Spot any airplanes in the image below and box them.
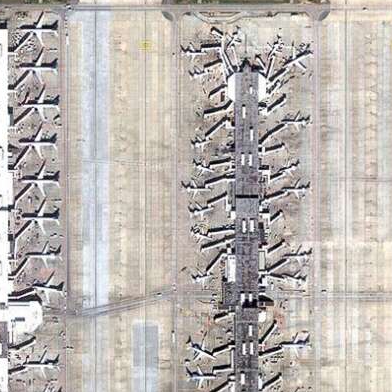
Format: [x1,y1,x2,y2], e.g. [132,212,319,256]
[19,53,57,83]
[191,227,212,241]
[279,159,301,175]
[282,112,311,134]
[19,165,59,197]
[19,15,57,46]
[25,353,60,379]
[19,128,56,158]
[283,269,308,287]
[191,136,211,150]
[26,243,61,270]
[181,44,206,63]
[186,367,216,389]
[189,202,213,220]
[282,180,310,201]
[268,34,284,56]
[282,335,311,357]
[22,203,58,233]
[186,340,216,361]
[192,269,212,284]
[283,245,311,266]
[20,90,58,121]
[32,275,65,305]
[182,177,211,199]
[193,160,214,174]
[283,43,316,71]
